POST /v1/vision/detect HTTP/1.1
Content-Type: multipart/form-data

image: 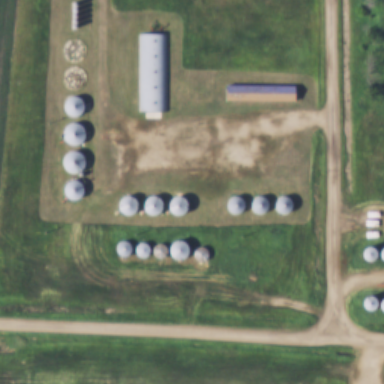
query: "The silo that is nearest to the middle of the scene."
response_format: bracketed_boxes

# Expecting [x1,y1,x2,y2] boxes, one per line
[170,192,190,217]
